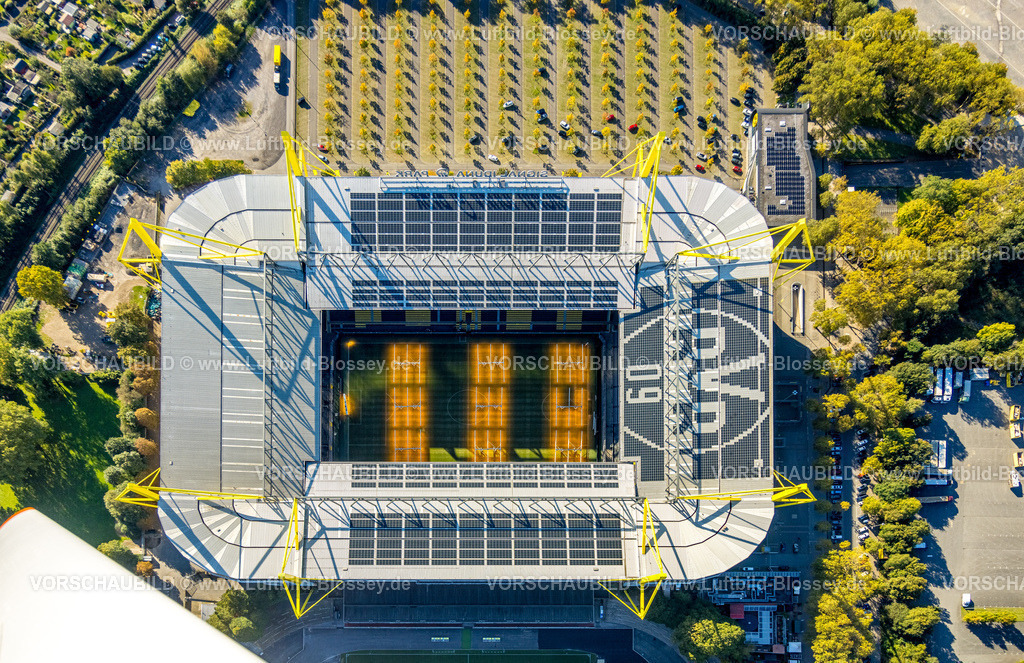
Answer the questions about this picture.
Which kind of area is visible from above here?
sports ground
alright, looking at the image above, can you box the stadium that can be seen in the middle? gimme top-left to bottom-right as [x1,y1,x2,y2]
[115,130,818,618]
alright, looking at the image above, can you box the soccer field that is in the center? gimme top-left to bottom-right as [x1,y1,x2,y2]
[343,338,593,462]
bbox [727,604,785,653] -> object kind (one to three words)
building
